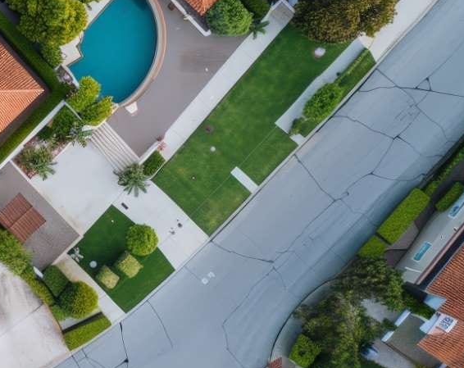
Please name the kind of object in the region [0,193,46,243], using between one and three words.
building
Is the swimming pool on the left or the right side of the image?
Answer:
left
